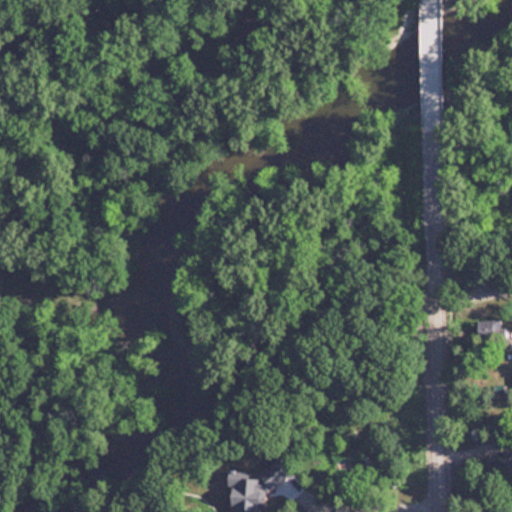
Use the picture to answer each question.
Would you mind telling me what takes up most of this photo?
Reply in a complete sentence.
For the most part, this view shows trees.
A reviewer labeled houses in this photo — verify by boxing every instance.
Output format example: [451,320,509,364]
[478,320,503,334]
[228,471,270,512]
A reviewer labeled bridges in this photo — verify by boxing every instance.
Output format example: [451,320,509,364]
[419,0,444,131]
